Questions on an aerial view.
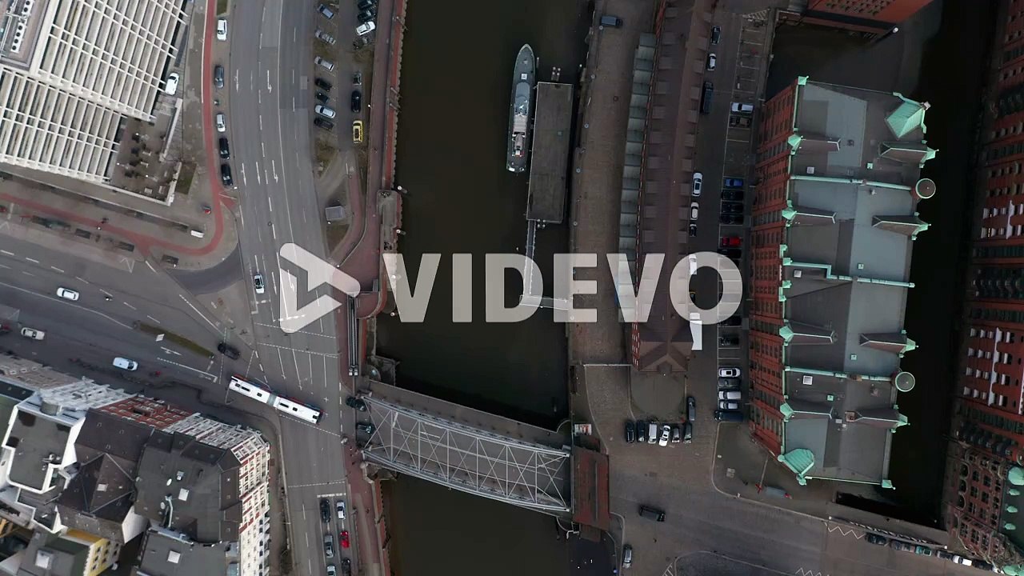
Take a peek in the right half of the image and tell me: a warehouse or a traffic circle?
warehouse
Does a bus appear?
Yes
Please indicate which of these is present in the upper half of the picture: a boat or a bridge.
boat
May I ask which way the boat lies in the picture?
from top to bottom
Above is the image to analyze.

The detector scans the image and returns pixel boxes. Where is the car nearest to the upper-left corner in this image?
[165,73,178,94]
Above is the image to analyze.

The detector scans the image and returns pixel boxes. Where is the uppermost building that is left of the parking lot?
[0,0,184,184]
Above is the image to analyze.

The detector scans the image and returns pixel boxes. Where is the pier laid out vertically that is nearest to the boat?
[523,81,573,225]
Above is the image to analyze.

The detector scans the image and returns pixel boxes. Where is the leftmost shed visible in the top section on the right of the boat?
[616,0,715,377]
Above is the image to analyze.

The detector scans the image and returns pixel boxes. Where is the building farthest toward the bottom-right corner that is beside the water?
[944,437,1024,576]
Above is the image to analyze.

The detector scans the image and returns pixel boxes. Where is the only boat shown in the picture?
[506,44,534,173]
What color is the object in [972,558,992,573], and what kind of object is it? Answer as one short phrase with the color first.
black car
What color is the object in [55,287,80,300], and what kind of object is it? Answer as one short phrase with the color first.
white vehicle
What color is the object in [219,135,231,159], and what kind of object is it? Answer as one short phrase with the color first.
black vehicle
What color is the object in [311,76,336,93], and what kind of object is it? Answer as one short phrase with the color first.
black car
